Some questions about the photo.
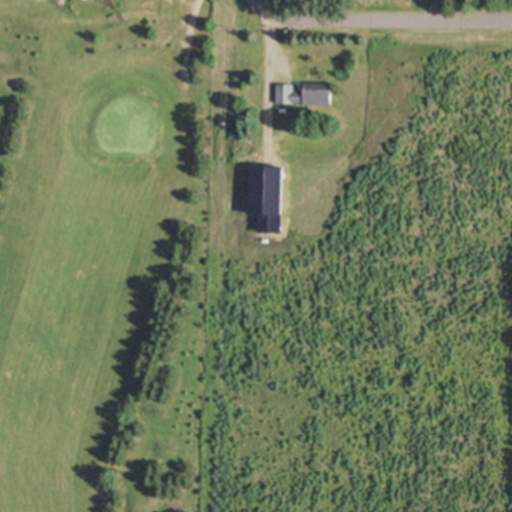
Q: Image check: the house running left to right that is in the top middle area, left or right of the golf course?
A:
to its right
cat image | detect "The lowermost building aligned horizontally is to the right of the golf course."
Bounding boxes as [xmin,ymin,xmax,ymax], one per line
[276,82,332,106]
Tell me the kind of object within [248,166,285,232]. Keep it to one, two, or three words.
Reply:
barn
